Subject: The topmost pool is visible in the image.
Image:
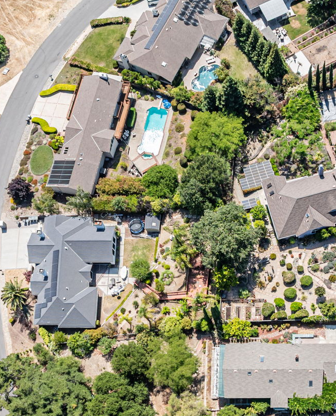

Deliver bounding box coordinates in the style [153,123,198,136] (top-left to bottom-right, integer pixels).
[190,63,220,93]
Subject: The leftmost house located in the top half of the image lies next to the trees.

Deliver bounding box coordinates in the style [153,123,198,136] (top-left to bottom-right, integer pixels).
[46,73,122,198]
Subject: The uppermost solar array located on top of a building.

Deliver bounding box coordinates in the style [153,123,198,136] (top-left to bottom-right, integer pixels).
[144,0,178,49]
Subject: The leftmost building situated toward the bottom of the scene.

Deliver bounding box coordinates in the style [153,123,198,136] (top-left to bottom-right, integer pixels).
[25,215,116,329]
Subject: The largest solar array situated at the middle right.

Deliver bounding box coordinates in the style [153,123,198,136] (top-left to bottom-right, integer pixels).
[243,161,275,186]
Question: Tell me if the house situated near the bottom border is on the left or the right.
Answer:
right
